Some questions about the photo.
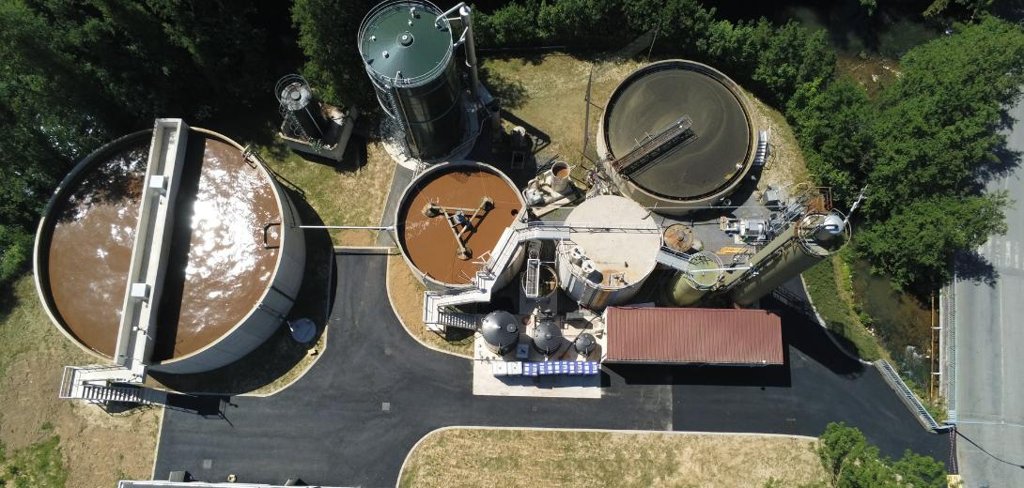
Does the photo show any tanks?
Yes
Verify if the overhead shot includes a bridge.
Yes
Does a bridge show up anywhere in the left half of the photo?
Yes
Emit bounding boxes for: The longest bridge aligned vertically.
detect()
[114,118,196,383]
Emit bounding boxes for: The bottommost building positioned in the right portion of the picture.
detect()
[600,306,783,367]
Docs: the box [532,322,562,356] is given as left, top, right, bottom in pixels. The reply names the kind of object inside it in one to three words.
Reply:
storage tank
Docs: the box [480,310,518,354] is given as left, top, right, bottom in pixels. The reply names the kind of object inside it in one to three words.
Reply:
storage tank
